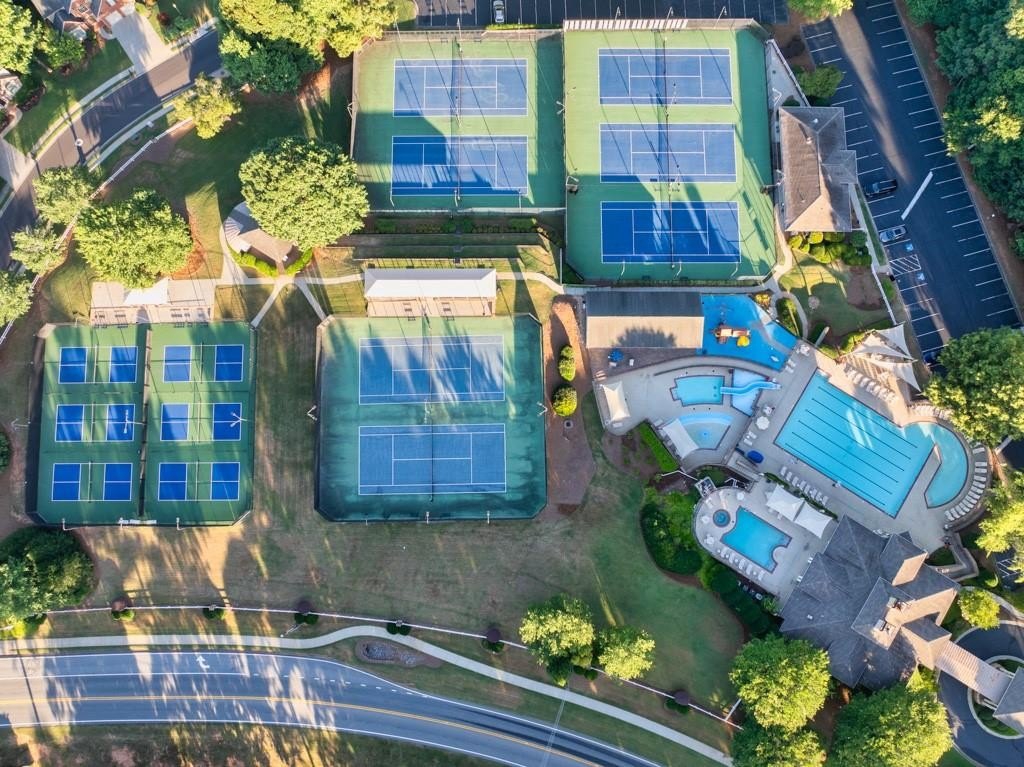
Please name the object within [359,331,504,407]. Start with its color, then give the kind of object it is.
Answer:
blue tennis court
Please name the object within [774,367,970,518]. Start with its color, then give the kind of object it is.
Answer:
blue swimming pool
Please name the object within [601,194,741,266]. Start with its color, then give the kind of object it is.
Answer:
blue tennis court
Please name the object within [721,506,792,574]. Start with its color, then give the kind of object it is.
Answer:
blue swimming pool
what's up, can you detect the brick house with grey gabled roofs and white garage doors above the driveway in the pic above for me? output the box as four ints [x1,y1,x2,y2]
[38,0,143,44]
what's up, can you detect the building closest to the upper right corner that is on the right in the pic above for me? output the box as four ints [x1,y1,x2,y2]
[774,107,860,235]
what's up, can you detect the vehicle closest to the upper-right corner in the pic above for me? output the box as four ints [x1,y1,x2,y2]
[867,179,898,197]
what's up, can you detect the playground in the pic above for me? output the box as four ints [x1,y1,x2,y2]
[702,292,799,372]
